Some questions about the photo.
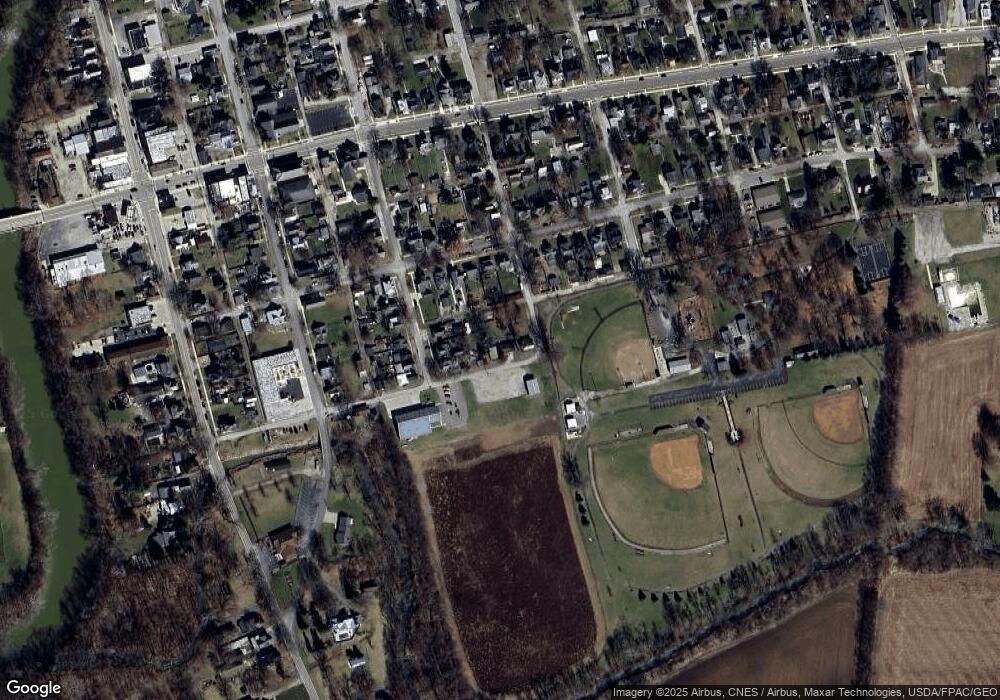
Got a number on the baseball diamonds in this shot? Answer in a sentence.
The count of baseball diamonds comes to 3.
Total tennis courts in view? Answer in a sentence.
No tennis courts are visible.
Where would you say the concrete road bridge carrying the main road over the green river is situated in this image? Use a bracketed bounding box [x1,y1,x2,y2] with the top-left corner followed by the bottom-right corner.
[0,209,44,232]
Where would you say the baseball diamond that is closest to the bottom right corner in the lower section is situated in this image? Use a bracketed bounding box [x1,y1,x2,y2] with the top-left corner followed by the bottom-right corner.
[756,384,873,507]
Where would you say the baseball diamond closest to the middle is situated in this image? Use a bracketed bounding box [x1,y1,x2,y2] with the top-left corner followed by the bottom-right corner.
[549,280,661,398]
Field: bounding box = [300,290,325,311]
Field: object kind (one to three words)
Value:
house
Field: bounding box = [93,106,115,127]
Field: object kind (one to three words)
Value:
building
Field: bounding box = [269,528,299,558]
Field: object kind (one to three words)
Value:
house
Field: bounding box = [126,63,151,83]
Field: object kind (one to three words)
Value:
building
